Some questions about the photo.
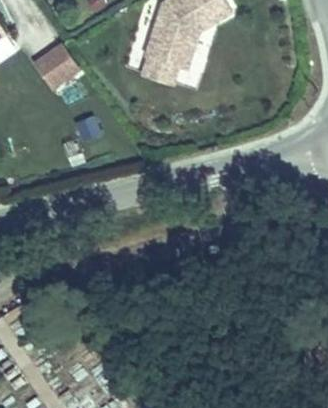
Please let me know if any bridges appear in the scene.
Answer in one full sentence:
No, no bridge is visible in the scene.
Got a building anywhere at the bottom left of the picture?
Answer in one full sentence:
No, the scene shows no building at the bottom left of the picture.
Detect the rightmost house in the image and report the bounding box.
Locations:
[126,0,238,88]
